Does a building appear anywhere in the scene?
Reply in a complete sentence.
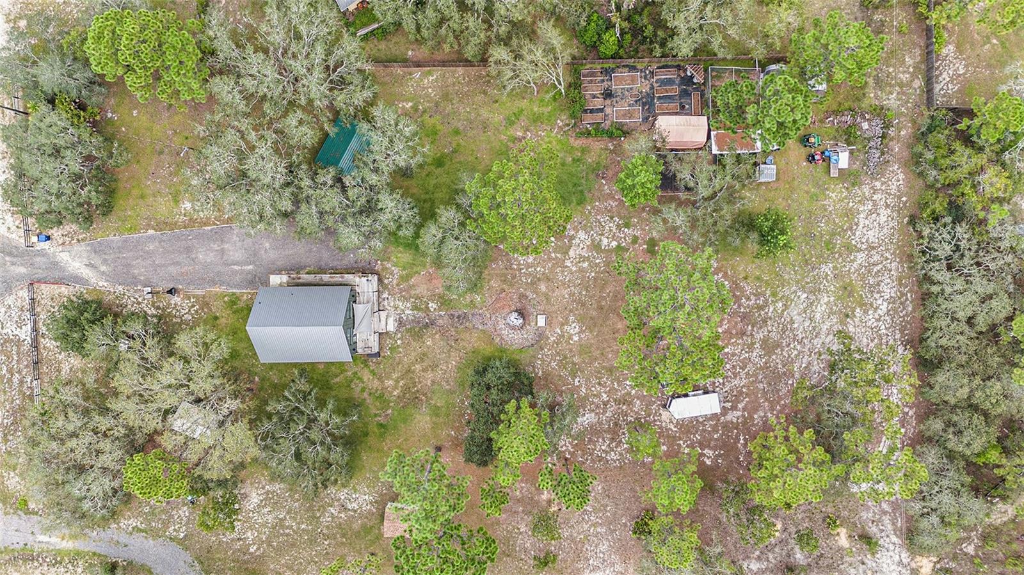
Yes, a building appears in the view.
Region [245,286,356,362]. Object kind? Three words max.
house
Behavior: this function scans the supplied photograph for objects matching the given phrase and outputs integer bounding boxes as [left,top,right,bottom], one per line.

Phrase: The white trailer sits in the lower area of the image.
[660,391,721,419]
